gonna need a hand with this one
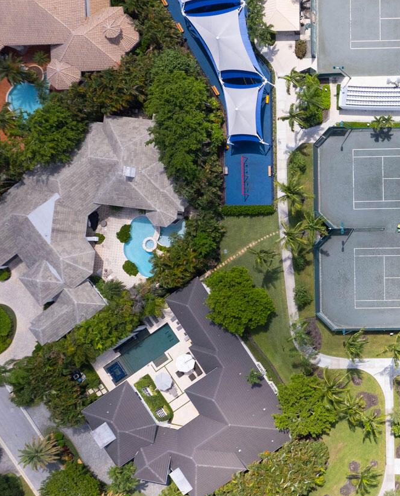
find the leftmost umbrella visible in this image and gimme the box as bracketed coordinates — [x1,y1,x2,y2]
[156,372,174,389]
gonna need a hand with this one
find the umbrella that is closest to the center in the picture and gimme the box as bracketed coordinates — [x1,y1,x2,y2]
[177,353,197,371]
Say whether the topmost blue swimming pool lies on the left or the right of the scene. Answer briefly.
left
